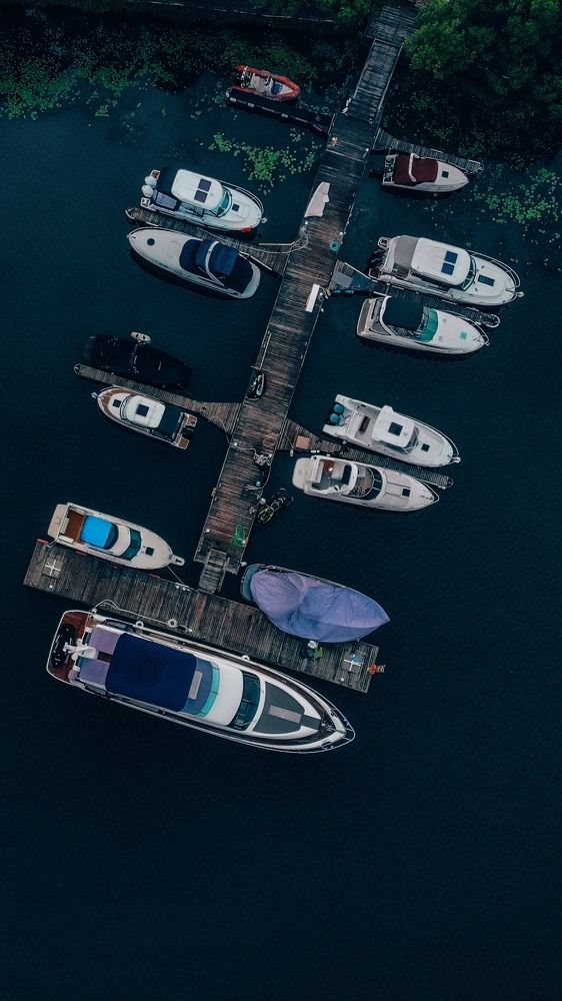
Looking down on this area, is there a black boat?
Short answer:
Yes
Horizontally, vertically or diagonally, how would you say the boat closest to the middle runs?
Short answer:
diagonally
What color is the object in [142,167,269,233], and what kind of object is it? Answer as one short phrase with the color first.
white boat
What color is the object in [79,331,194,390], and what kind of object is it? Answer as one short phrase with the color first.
black boat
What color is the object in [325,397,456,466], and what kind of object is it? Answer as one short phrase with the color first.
white boat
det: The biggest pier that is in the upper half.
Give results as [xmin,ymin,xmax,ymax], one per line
[194,112,376,575]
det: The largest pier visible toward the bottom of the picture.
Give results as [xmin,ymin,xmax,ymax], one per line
[23,541,379,693]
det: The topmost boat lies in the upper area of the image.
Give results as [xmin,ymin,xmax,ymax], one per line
[227,59,299,102]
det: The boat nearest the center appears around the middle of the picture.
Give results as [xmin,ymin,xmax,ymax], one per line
[257,492,289,524]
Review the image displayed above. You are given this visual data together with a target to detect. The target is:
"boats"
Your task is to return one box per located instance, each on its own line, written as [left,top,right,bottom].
[291,452,441,507]
[378,150,471,195]
[48,608,358,750]
[244,370,266,401]
[142,167,269,233]
[49,502,181,566]
[227,59,299,102]
[325,397,456,466]
[94,390,196,449]
[372,237,521,310]
[125,227,264,307]
[241,561,390,643]
[79,331,194,390]
[353,298,489,357]
[257,492,289,524]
